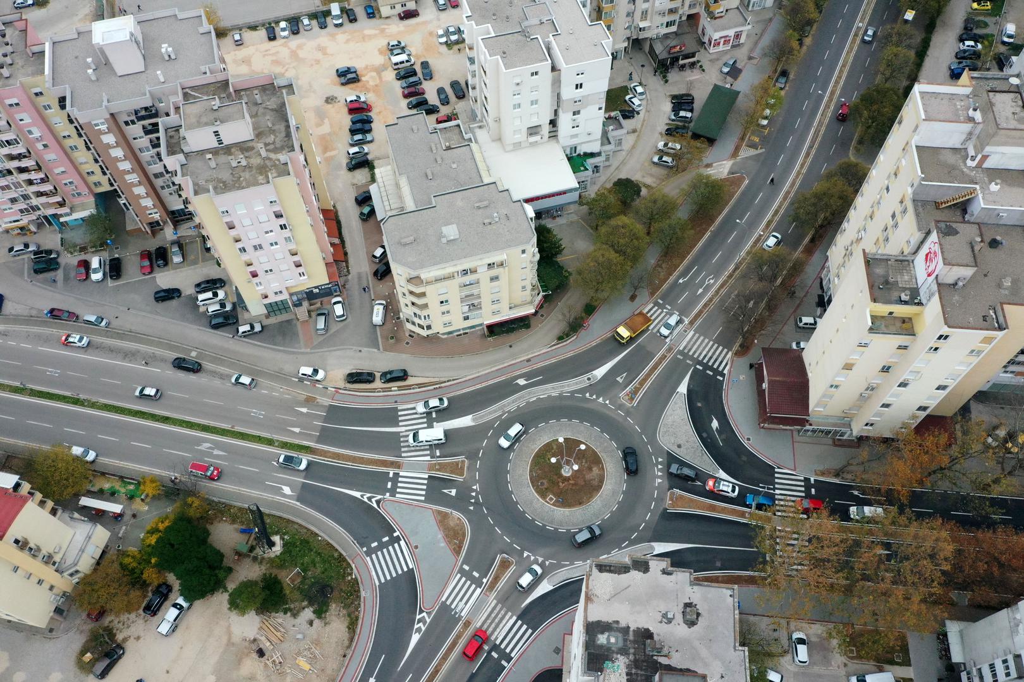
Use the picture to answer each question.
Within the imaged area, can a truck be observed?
Yes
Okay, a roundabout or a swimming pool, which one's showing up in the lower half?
roundabout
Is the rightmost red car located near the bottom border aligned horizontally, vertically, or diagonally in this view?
diagonally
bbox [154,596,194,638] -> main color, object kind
white truck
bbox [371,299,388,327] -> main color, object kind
white vehicle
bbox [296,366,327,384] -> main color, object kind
white car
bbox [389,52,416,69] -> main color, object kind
white vehicle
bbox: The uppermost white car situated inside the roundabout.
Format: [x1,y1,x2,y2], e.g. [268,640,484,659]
[496,420,528,450]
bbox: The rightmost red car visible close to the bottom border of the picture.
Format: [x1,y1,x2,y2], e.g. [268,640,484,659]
[460,628,490,664]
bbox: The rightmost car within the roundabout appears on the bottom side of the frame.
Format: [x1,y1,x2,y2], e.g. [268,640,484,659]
[623,446,639,477]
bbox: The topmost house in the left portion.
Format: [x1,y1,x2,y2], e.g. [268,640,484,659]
[376,0,419,31]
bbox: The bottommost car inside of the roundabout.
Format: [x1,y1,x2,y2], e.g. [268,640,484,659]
[570,522,605,550]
